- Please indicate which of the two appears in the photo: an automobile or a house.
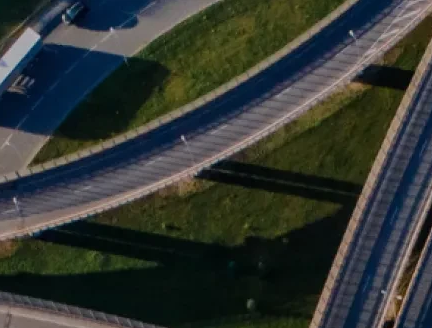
automobile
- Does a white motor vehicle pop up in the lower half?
No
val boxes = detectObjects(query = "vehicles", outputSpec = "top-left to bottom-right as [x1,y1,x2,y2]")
[0,28,44,95]
[61,1,87,25]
